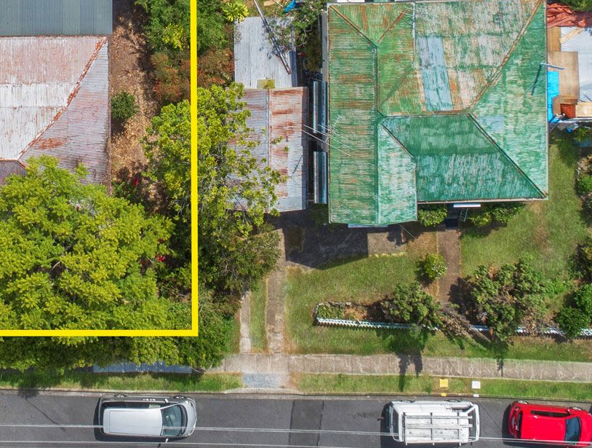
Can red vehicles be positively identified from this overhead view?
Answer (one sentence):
Yes, a red vehicle can be made out from above.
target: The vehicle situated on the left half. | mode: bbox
[97,389,195,439]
